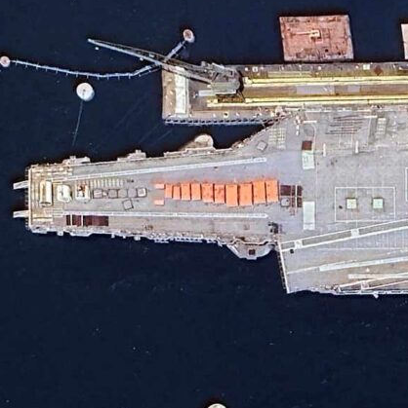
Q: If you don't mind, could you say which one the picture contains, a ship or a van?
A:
ship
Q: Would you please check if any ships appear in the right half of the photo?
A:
Yes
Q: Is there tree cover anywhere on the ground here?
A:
No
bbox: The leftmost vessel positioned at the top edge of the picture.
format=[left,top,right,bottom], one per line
[280,13,354,63]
